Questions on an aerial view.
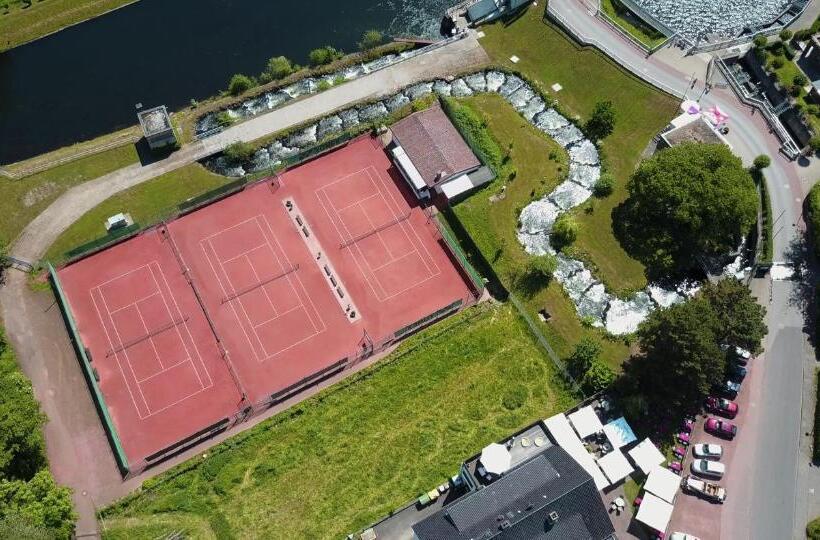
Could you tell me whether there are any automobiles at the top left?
No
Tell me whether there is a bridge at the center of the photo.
No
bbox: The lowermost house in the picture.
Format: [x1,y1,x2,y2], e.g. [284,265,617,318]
[412,447,612,540]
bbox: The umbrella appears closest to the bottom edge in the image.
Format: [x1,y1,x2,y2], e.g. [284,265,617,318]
[636,492,673,534]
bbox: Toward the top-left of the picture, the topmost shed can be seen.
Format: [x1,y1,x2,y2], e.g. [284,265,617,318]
[143,105,182,149]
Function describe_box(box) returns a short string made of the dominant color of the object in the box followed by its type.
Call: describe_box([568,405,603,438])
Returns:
white umbrella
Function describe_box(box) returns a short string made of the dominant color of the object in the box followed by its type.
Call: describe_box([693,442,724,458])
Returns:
white car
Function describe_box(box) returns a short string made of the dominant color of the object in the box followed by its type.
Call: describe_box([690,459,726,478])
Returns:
white car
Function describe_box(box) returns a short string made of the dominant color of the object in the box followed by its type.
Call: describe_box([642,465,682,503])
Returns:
white umbrella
